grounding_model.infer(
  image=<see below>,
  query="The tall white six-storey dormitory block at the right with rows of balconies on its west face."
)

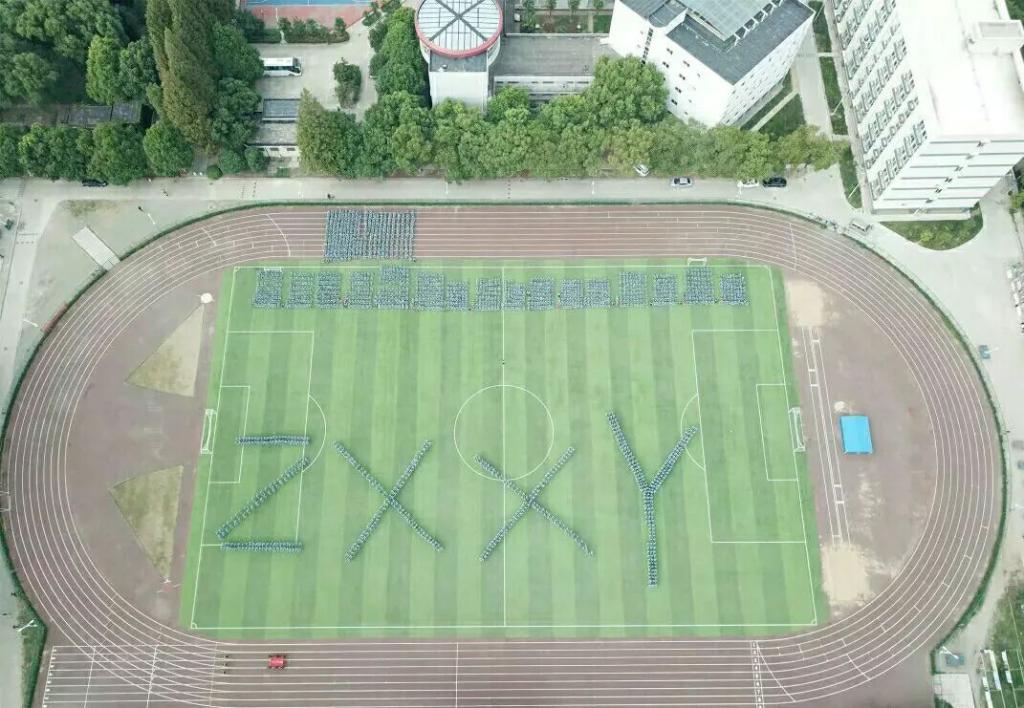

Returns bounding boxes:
[833,0,1024,212]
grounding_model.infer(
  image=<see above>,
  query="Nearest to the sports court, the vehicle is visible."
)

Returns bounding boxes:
[257,60,302,77]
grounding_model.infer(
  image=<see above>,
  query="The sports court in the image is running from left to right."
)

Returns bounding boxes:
[247,0,372,28]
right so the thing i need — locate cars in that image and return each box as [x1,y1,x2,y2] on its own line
[738,179,758,189]
[80,178,106,188]
[670,177,693,188]
[763,177,787,188]
[631,160,651,176]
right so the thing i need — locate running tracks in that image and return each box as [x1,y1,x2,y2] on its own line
[0,205,1002,708]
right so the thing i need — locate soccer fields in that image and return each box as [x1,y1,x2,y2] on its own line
[179,259,826,640]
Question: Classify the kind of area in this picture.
sports ground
